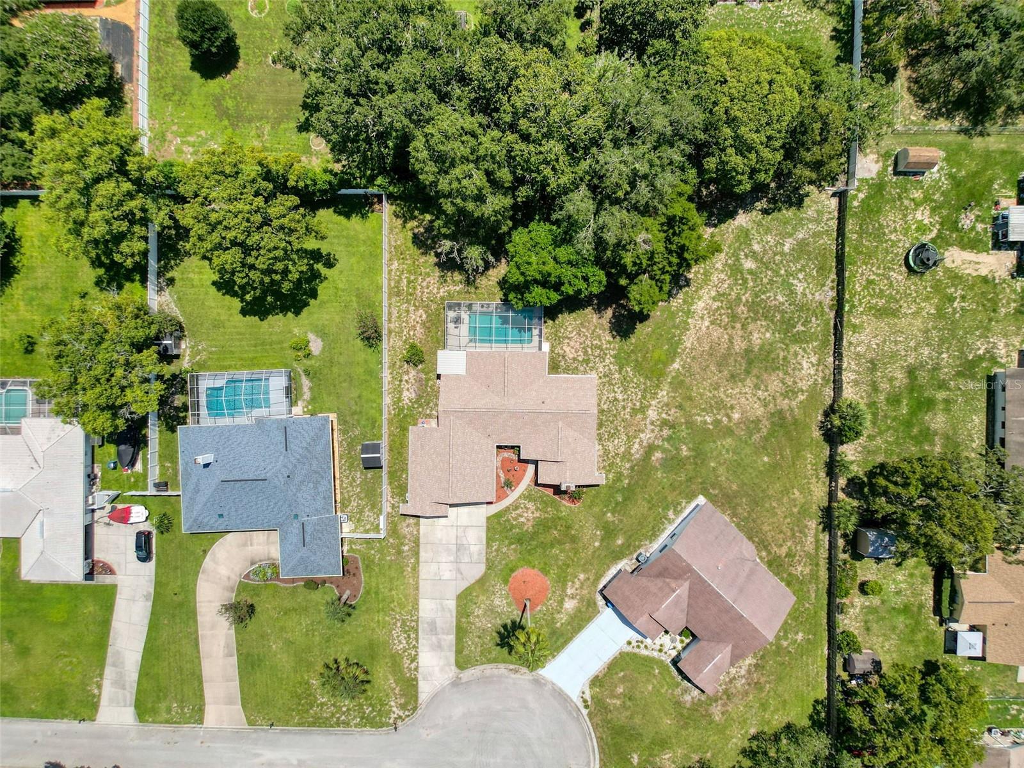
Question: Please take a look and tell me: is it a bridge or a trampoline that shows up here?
trampoline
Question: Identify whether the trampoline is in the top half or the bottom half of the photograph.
top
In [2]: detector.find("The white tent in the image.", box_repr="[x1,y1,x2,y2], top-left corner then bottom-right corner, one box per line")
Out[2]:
[942,624,979,656]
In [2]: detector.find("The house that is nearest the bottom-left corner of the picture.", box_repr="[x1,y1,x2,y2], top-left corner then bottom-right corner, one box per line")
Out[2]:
[0,418,94,582]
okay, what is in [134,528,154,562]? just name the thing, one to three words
car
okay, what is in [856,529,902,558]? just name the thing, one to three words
shed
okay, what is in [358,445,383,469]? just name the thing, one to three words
shed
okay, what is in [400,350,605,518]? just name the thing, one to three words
house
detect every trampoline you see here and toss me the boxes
[905,239,945,273]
